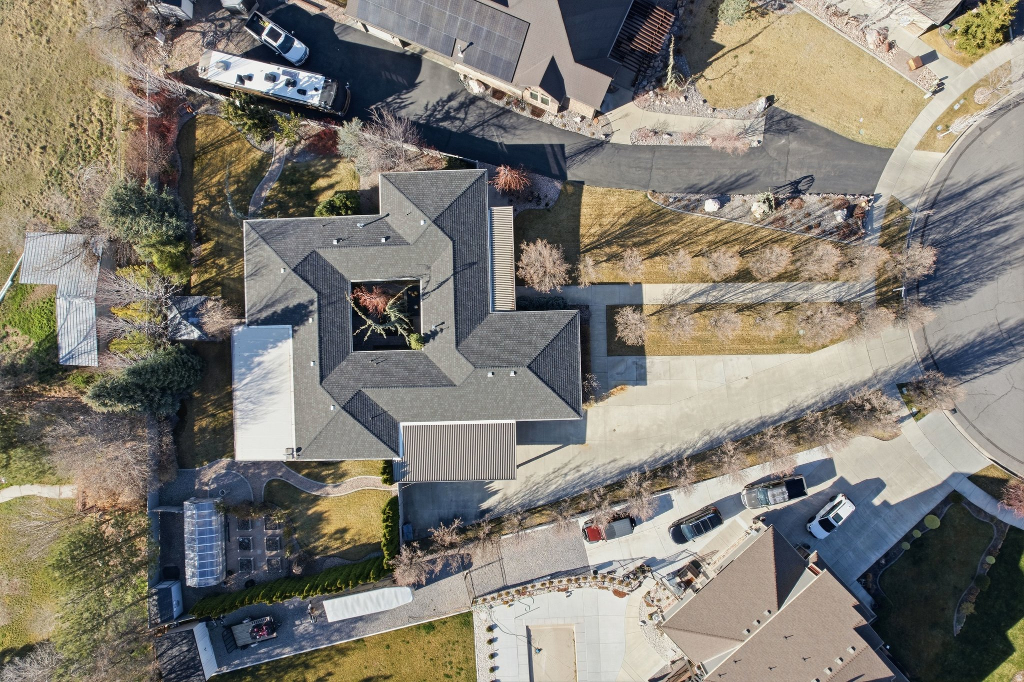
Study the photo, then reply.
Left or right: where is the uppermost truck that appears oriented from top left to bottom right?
left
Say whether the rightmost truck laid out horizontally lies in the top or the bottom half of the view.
bottom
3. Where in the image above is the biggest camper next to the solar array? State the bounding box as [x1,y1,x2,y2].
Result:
[198,50,356,120]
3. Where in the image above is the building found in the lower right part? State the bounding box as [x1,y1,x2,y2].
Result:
[656,523,934,682]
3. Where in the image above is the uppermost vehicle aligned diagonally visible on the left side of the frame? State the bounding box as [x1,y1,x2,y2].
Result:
[243,10,311,69]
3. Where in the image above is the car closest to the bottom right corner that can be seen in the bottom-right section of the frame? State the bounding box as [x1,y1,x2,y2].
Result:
[806,491,857,538]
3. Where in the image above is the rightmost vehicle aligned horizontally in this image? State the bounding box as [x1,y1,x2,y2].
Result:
[738,472,810,508]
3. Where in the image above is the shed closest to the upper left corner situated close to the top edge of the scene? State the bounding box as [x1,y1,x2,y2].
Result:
[155,0,205,29]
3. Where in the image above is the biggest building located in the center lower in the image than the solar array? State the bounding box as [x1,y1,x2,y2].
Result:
[242,169,583,462]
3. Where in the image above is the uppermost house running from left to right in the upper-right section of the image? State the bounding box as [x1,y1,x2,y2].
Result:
[879,0,965,35]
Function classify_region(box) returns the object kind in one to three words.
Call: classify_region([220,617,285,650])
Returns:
trailer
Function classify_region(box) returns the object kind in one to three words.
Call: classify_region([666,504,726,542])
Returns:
car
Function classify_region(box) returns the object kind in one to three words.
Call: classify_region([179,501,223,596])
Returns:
greenhouse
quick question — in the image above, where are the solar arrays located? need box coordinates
[354,0,529,84]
